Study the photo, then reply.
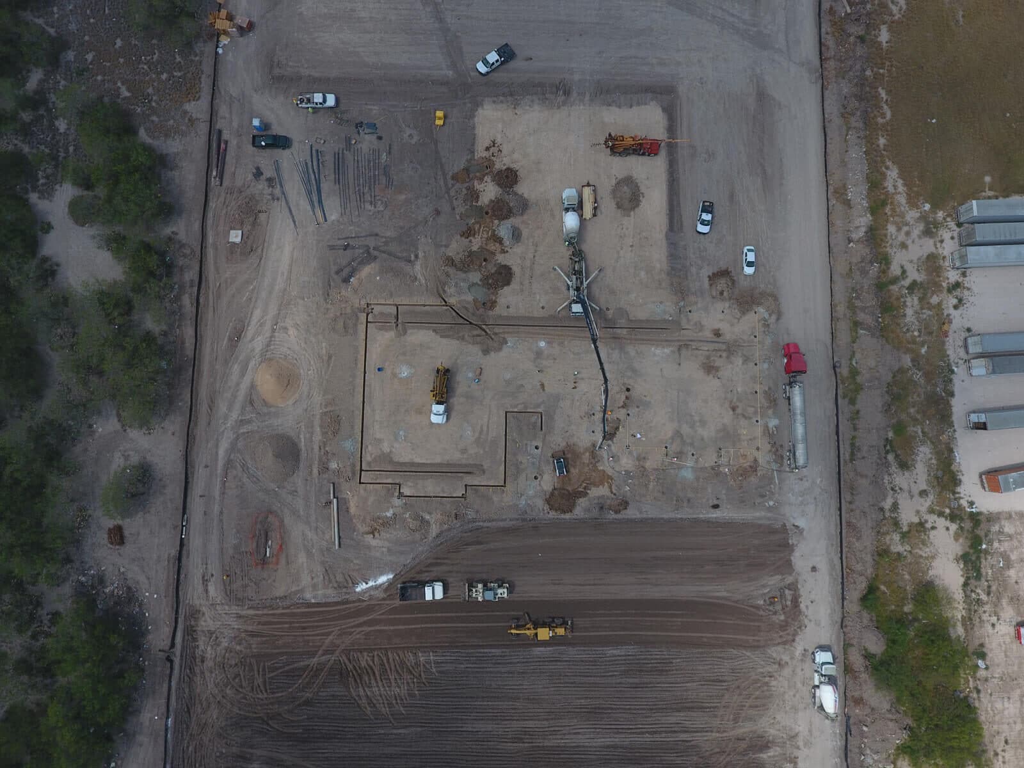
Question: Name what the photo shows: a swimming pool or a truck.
truck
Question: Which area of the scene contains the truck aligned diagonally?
top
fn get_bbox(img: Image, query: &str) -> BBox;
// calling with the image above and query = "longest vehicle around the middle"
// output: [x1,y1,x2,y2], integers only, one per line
[552,248,609,449]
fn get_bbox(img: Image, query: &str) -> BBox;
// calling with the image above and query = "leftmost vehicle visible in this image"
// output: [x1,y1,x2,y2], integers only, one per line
[252,134,293,150]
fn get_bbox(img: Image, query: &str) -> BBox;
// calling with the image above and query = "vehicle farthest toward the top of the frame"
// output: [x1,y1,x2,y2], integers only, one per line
[476,39,515,72]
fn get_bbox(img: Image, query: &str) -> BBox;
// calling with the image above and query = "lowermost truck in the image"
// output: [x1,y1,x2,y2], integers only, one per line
[812,650,835,718]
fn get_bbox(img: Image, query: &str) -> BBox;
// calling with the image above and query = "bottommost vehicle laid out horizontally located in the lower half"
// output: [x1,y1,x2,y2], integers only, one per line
[508,614,574,639]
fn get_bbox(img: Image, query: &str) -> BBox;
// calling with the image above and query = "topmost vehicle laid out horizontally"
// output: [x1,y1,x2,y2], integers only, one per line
[296,91,336,108]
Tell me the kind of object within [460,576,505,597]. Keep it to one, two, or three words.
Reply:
work vehicle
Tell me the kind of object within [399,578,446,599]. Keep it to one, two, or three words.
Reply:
truck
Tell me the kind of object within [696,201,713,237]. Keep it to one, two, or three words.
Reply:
vehicle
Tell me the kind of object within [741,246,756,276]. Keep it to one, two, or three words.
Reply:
car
